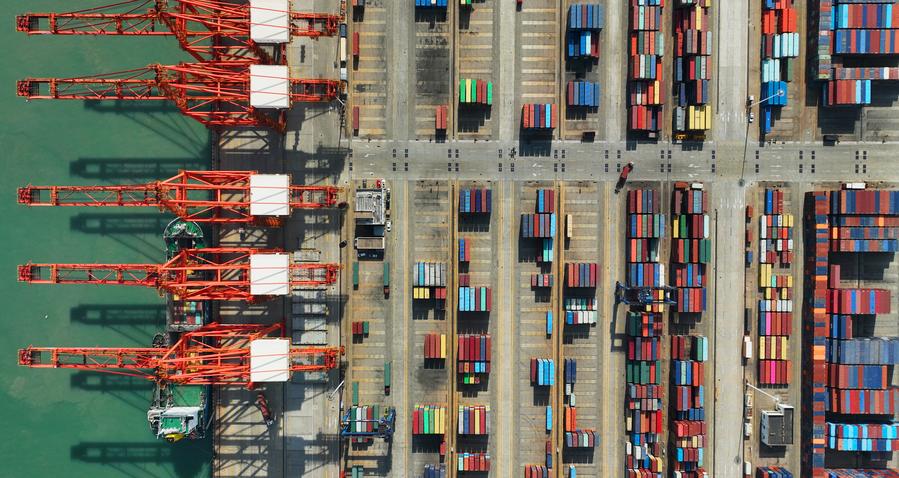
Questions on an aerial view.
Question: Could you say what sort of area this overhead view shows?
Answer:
port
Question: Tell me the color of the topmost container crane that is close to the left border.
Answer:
red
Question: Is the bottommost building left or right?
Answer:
right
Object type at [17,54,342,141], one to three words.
container crane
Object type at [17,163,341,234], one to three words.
container crane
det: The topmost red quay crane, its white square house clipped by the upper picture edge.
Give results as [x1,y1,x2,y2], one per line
[17,0,342,77]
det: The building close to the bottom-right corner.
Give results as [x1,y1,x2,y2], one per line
[761,400,795,445]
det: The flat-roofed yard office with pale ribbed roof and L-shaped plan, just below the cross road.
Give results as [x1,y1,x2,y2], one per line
[356,190,385,224]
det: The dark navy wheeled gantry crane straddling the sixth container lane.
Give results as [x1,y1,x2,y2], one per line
[618,280,679,307]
